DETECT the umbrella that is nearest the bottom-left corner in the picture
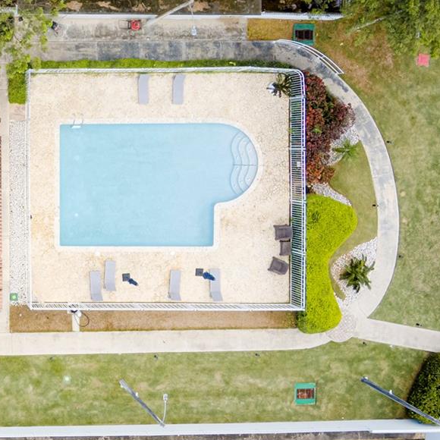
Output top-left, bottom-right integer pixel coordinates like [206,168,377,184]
[122,273,142,288]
